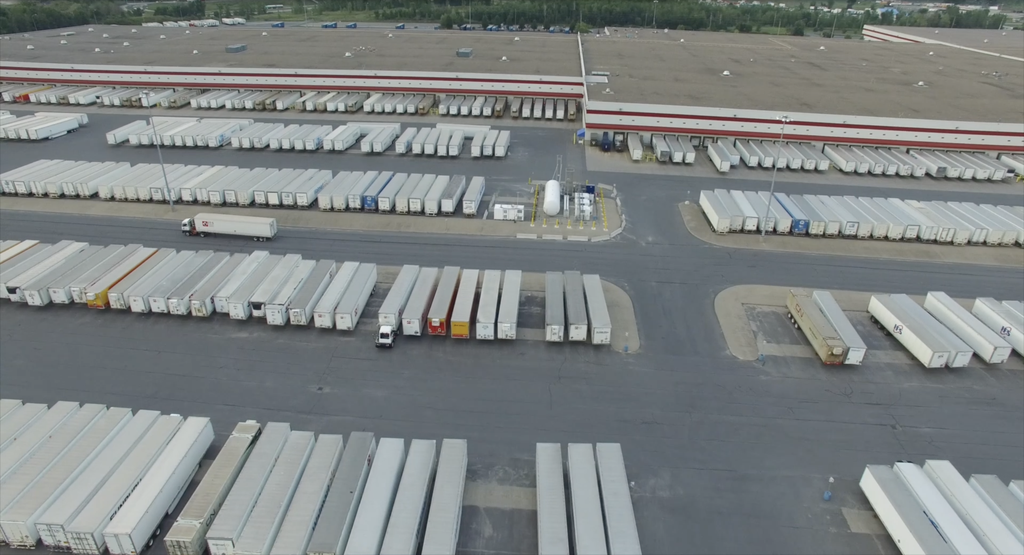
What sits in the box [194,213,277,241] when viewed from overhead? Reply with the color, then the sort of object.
white trailer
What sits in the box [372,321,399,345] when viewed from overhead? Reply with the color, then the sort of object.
white truck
